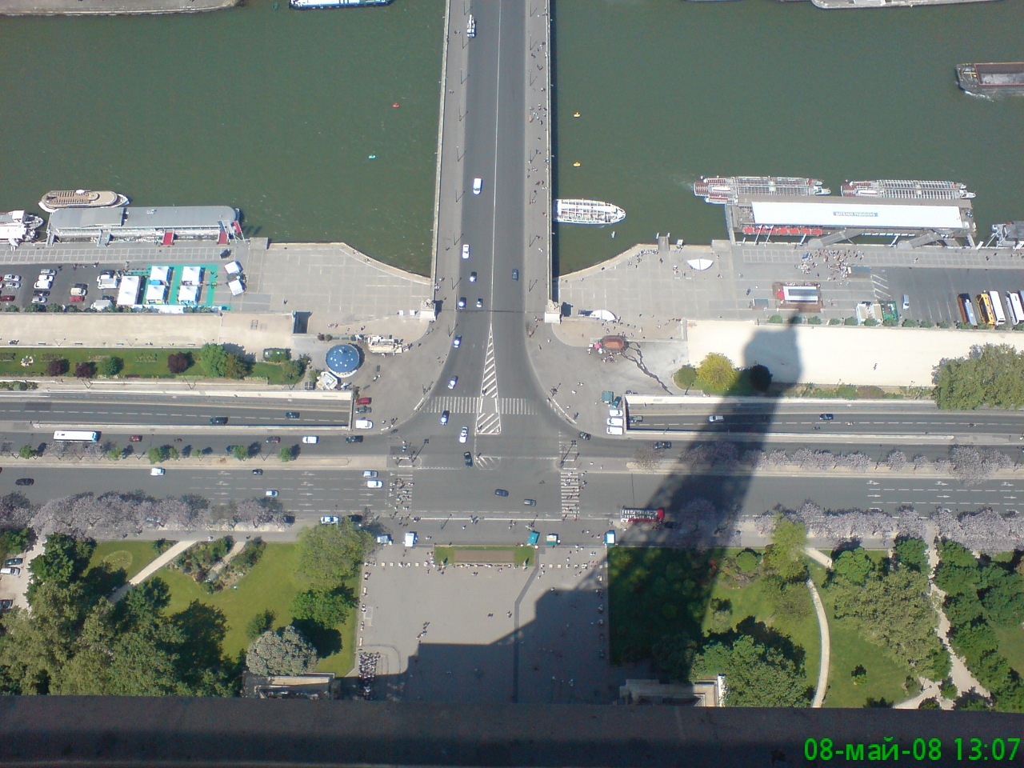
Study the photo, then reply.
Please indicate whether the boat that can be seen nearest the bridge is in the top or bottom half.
top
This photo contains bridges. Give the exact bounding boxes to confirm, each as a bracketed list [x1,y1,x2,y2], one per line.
[427,0,555,323]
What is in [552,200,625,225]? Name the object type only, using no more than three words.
boat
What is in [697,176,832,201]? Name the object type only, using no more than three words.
boat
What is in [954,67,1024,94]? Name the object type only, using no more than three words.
ship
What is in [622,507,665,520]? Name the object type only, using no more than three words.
vehicle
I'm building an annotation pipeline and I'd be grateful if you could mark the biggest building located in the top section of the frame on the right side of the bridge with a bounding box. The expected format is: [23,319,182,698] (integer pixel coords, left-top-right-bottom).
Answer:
[767,280,821,312]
